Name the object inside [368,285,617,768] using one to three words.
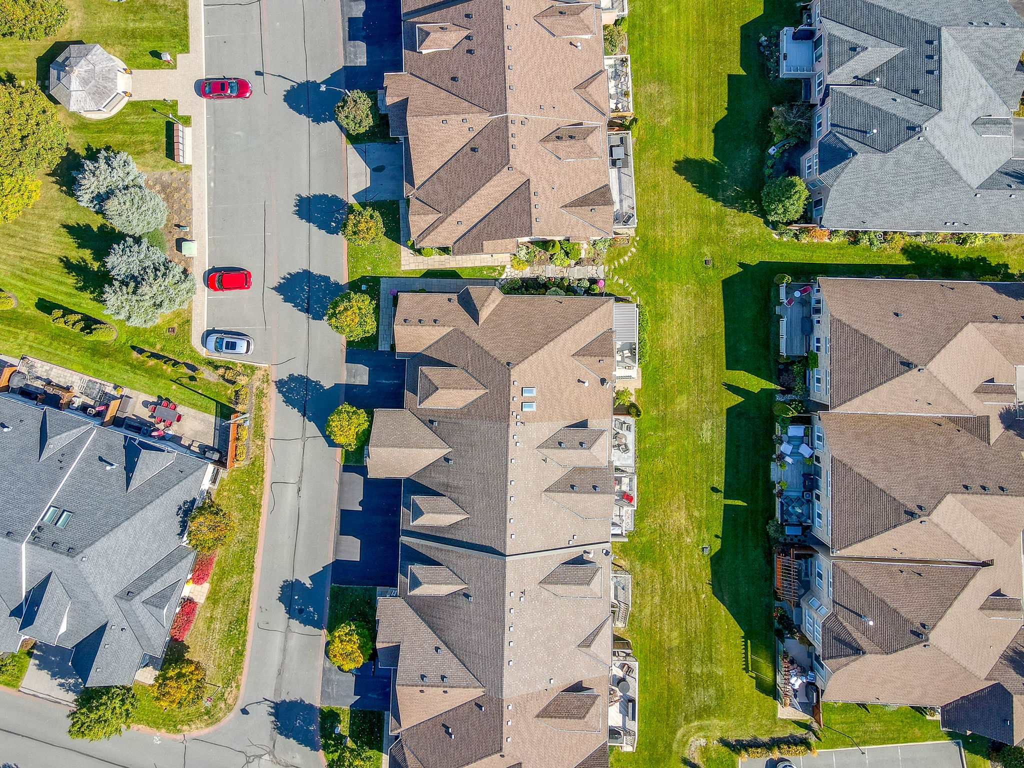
house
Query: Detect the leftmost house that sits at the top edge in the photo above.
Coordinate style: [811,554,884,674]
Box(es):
[384,0,613,257]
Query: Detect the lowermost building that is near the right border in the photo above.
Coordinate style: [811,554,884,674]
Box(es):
[796,277,1024,746]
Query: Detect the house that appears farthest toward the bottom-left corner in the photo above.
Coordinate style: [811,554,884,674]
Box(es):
[0,391,217,687]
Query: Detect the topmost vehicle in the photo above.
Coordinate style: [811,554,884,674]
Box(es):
[201,75,255,102]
